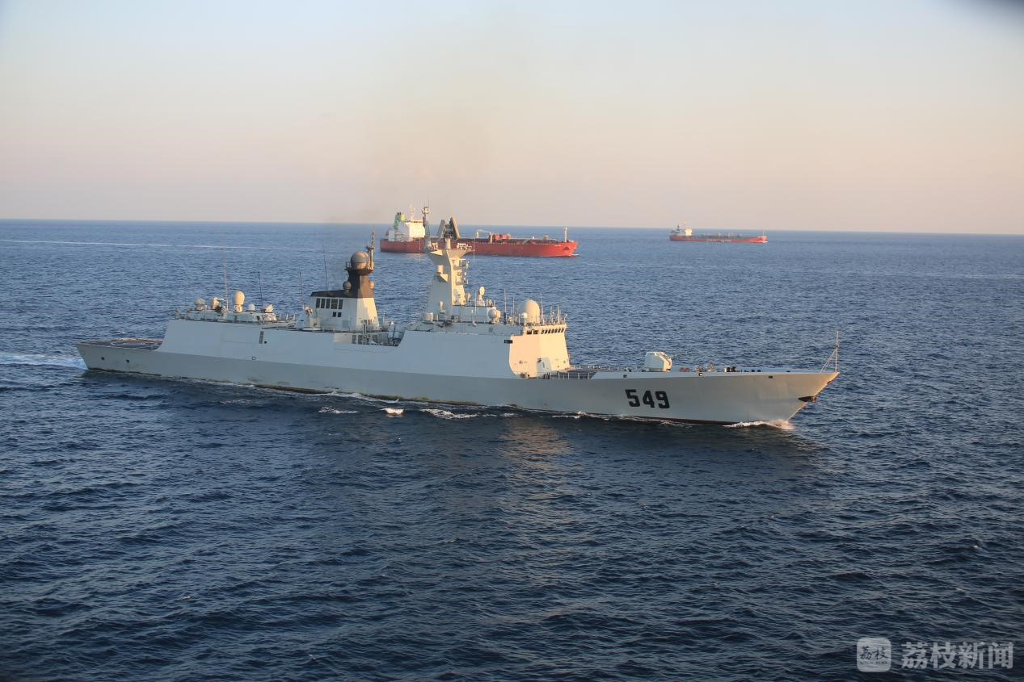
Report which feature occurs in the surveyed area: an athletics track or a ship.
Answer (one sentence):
It is a ship that can be seen here.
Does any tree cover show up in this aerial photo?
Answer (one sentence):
No, tree cover can't be seen anywhere here.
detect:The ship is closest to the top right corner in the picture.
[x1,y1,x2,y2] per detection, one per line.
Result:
[668,227,768,243]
